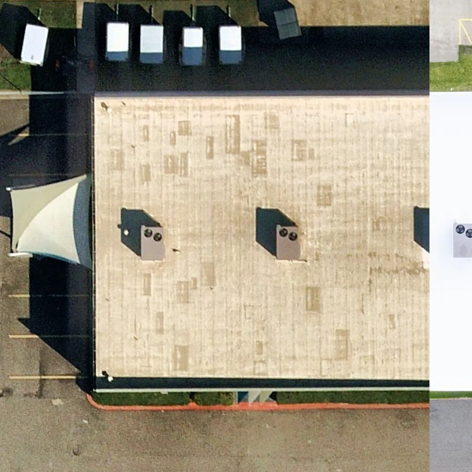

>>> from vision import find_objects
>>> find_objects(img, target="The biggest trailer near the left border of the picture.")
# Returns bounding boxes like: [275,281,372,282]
[21,11,54,66]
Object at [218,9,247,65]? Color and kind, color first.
white trailer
